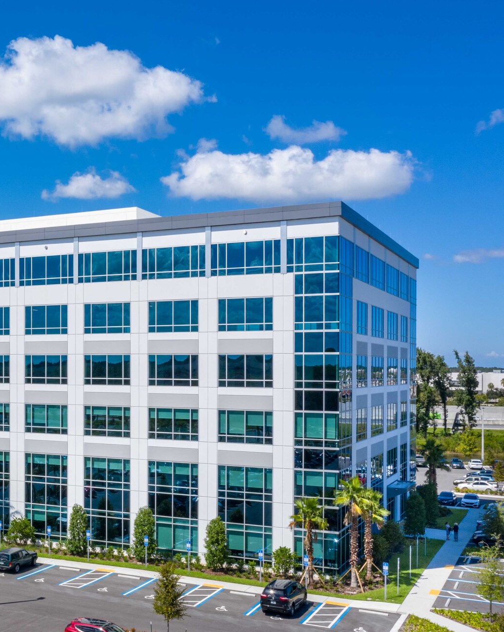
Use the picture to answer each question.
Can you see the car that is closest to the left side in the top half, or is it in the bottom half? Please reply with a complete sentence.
The car that is closest to the left side sits in the bottom half of the picture.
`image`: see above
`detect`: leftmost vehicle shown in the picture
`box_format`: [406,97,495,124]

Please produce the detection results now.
[0,546,37,572]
